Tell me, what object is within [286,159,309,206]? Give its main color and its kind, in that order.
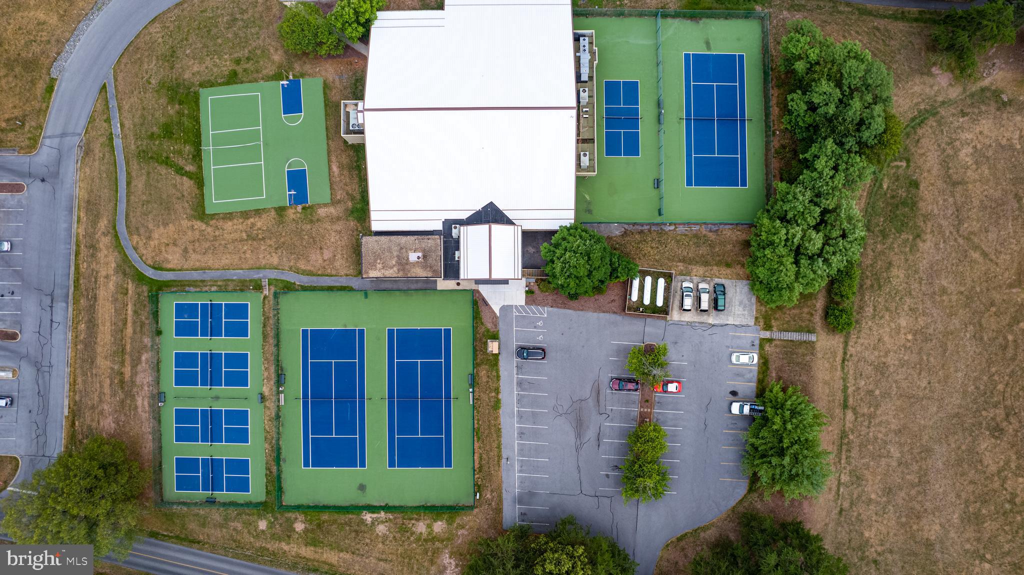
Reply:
blue basketball court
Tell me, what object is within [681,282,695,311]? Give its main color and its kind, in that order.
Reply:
white car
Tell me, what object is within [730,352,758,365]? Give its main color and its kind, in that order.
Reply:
white vehicle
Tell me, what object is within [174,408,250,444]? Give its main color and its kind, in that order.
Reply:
blue sports court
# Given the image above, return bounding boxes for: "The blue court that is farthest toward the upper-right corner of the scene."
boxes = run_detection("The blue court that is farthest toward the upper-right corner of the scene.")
[683,52,748,187]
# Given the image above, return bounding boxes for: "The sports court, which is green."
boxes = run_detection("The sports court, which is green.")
[209,93,265,202]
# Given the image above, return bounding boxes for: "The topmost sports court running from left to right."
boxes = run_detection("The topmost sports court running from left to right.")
[174,302,250,338]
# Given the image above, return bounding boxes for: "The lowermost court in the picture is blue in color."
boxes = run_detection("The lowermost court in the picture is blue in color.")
[174,457,251,494]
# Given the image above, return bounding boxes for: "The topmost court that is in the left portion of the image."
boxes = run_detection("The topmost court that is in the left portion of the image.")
[280,79,303,124]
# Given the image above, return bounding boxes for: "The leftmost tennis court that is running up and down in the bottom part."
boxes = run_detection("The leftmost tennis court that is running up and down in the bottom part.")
[301,328,367,469]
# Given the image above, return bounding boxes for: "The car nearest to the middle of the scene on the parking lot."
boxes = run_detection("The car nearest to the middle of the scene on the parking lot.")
[517,347,545,361]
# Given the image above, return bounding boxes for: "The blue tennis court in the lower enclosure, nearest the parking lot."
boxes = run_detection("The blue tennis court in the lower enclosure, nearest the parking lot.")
[386,328,453,469]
